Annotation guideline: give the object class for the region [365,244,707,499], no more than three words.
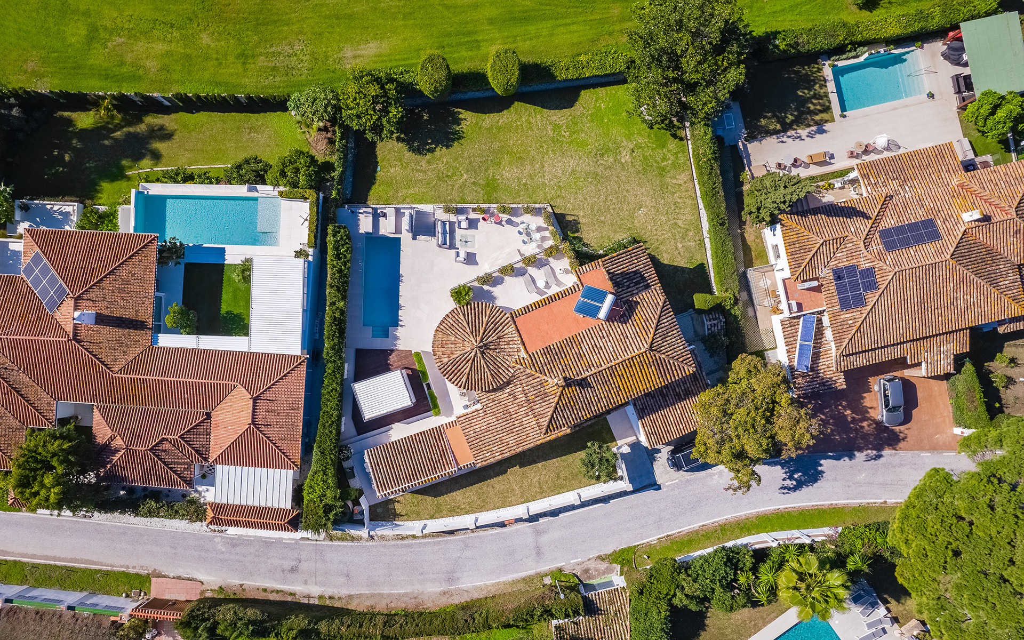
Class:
house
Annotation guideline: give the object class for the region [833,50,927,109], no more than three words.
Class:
swimming pool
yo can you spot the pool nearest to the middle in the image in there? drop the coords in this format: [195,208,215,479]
[363,237,400,337]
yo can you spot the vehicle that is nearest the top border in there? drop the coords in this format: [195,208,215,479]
[875,372,907,426]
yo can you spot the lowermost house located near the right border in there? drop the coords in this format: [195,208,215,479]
[753,140,1024,396]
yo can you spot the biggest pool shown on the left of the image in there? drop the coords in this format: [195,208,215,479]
[139,193,280,245]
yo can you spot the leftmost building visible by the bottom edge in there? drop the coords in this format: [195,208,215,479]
[130,597,194,622]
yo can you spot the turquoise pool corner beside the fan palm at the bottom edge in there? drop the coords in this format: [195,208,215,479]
[775,615,840,640]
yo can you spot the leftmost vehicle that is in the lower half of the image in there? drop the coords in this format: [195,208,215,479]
[663,441,716,477]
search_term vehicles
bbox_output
[663,441,716,477]
[875,372,907,426]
